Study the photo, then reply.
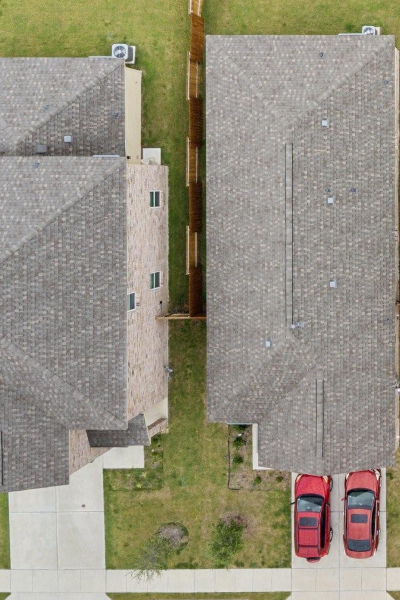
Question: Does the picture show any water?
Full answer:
No, there's no water in this view.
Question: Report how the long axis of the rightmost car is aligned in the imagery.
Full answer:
In this picture, the rightmost car lies from top to bottom.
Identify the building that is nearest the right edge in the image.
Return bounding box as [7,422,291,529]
[206,32,400,477]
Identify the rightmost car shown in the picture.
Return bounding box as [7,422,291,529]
[341,470,383,558]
